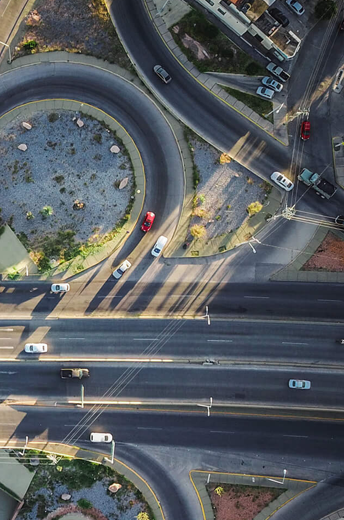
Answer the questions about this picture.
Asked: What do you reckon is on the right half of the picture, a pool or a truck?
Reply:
truck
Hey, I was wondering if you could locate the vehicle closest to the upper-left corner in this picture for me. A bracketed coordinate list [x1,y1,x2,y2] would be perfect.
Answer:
[152,63,173,84]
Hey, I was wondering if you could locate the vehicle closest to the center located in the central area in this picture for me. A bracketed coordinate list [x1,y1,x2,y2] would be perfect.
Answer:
[150,233,167,258]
